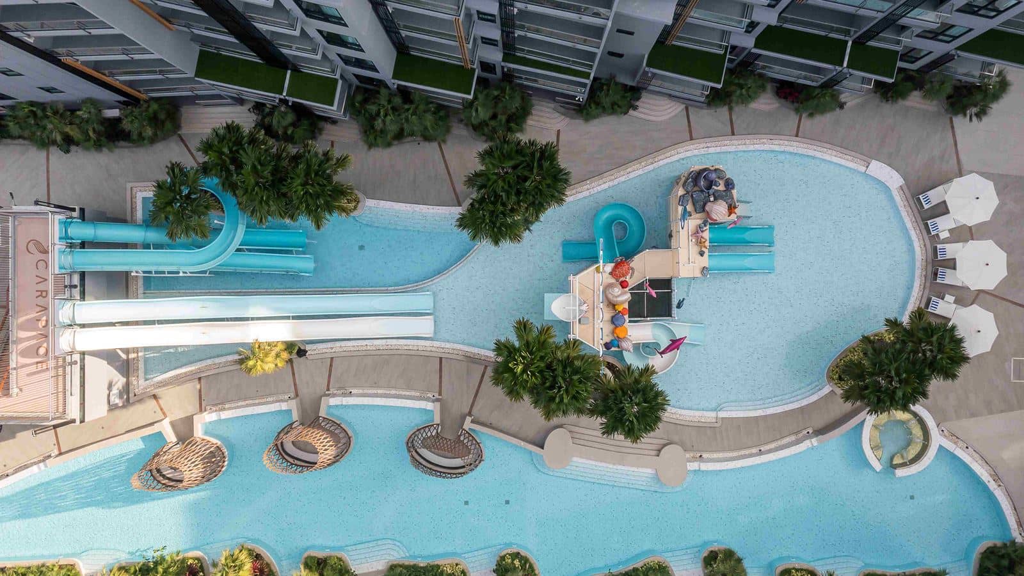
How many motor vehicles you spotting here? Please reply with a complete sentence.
No motor vehicles are visible.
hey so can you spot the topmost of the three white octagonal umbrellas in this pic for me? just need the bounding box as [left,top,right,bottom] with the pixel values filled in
[937,171,1000,227]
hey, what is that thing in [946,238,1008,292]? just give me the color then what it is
white umbrella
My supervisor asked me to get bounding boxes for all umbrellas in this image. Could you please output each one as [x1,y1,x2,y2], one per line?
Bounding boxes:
[946,238,1008,292]
[948,302,1000,360]
[937,171,1000,227]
